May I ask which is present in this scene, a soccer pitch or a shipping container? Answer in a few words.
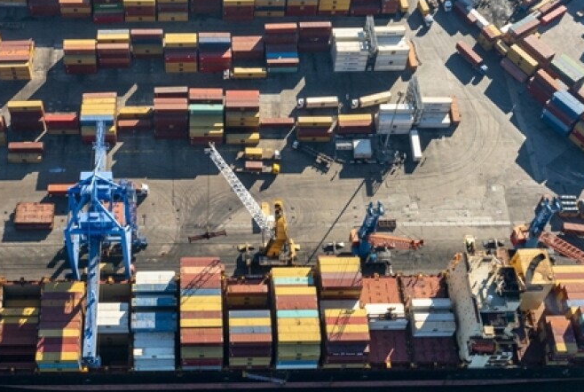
shipping container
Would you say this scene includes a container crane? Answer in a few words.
Yes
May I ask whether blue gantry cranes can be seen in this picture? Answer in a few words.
Yes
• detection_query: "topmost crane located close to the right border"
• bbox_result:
[491,194,584,261]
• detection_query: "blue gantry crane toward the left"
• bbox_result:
[59,113,144,375]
